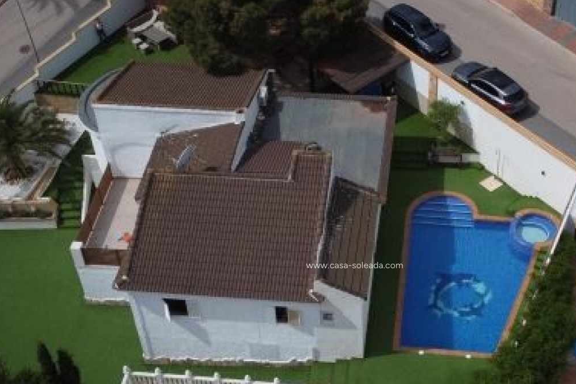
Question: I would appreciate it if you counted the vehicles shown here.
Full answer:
My tally gives 2 vehicles in this view.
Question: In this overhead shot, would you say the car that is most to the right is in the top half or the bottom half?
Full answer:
The car that is most to the right sits in the top half of the picture.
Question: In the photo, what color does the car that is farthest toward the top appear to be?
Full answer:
In this view, the car that is farthest toward the top is black.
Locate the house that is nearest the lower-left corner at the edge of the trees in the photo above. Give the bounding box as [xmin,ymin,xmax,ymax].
[66,63,395,356]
